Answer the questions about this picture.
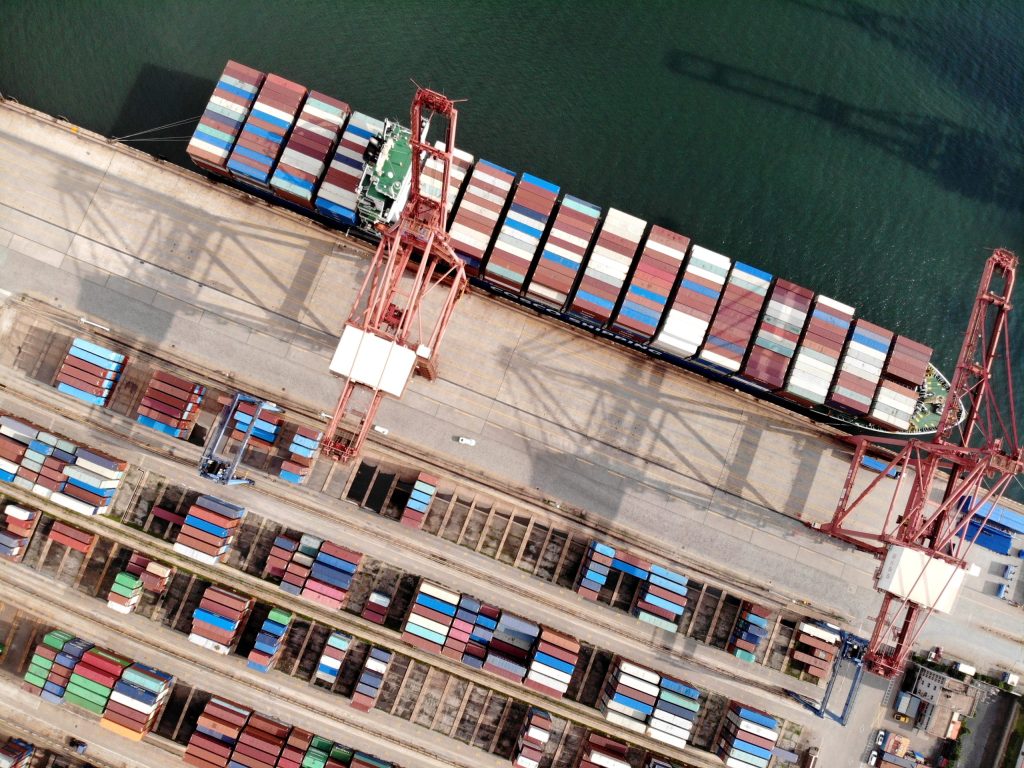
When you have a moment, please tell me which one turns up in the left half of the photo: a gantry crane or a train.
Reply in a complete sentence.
Looking in the left half of the photo, you will find a gantry crane.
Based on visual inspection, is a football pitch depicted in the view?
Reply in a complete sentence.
No, there's no football pitch here.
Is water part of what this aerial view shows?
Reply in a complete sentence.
Yes, water shows up in the scene.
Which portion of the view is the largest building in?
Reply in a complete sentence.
The largest building is located in the bottom right region of the scene.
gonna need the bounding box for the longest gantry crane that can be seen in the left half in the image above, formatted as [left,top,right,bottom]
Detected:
[317,77,479,466]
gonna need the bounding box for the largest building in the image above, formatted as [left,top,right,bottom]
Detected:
[896,660,980,743]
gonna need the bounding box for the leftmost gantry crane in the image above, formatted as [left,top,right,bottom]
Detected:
[199,388,291,494]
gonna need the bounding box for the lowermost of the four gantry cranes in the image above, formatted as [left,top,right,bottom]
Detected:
[782,612,879,735]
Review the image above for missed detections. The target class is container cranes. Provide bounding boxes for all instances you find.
[805,250,1024,683]
[199,388,291,494]
[317,77,479,466]
[782,612,879,735]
